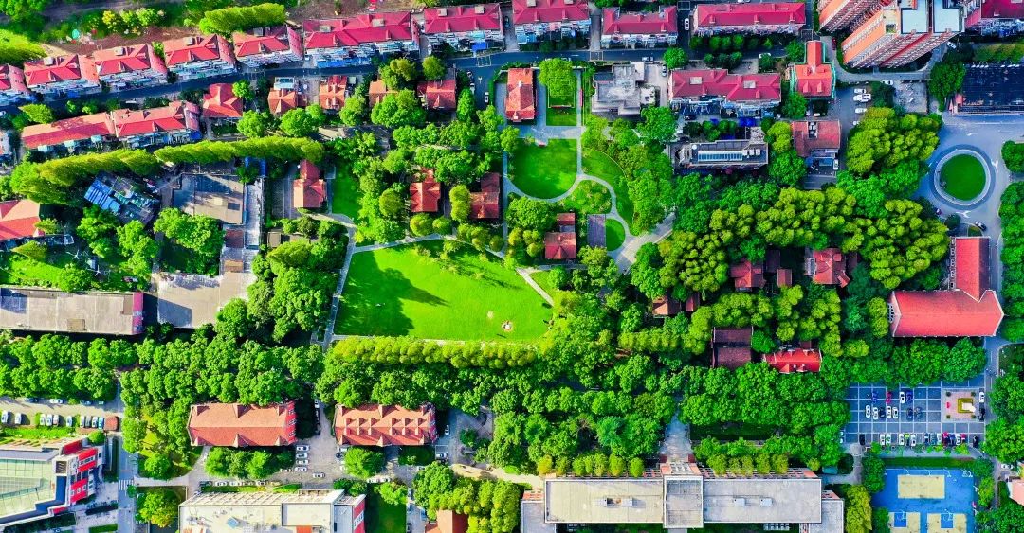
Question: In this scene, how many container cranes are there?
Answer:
zero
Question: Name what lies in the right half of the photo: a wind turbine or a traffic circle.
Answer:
traffic circle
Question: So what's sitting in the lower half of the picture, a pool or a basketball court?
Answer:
basketball court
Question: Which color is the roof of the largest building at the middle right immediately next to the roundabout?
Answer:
red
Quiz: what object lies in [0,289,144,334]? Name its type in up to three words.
building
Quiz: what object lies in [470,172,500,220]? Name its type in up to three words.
house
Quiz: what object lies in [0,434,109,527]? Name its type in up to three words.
building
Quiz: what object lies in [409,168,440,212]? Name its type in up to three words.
house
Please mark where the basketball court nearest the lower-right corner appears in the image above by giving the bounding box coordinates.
[873,468,977,533]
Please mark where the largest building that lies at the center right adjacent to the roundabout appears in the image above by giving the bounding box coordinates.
[887,236,1004,338]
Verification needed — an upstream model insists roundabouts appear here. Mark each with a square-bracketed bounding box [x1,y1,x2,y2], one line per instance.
[929,142,997,211]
